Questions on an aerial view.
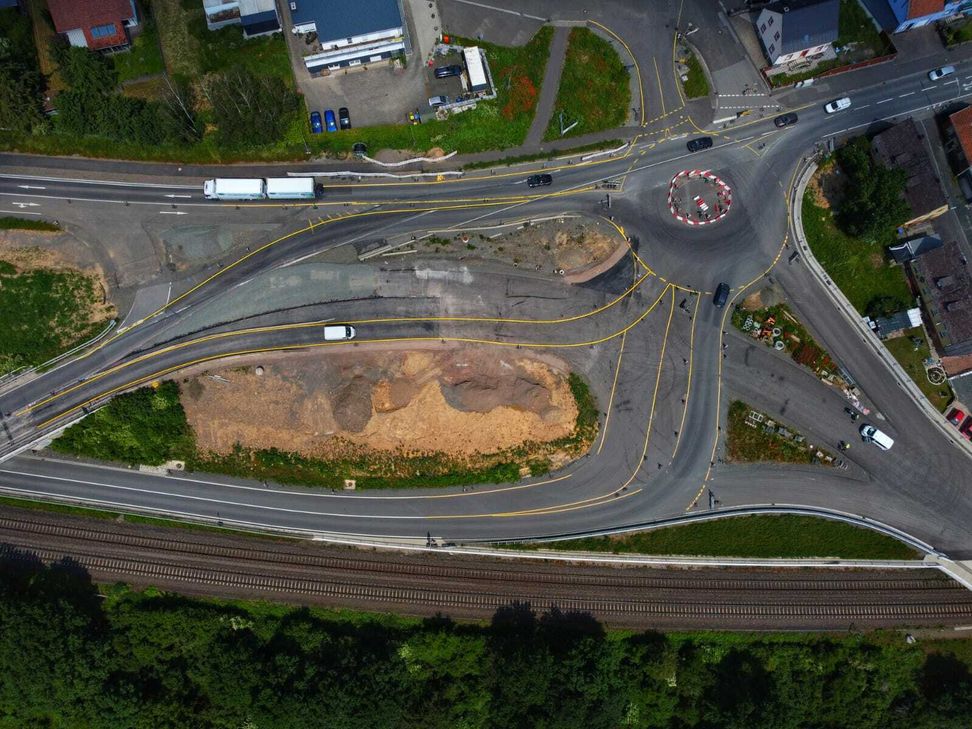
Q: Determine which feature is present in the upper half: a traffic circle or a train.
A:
traffic circle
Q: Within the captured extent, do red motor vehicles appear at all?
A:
Yes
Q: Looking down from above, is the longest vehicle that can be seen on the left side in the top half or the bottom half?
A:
top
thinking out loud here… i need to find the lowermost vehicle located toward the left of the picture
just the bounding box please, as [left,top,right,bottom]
[324,326,358,341]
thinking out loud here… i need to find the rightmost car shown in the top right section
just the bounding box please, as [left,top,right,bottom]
[926,65,957,81]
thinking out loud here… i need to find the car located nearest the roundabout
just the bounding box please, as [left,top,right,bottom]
[685,137,715,152]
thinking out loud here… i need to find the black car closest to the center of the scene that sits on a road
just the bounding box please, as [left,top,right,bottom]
[526,174,552,187]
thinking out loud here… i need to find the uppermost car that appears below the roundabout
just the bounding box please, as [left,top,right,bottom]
[714,281,729,308]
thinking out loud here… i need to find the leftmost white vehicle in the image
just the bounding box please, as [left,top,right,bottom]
[208,178,326,198]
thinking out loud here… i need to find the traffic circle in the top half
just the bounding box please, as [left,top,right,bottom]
[626,147,782,268]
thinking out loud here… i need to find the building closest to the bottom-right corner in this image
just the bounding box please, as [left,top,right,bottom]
[940,373,972,419]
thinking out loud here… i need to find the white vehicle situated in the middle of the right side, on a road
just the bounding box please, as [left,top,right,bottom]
[857,426,894,451]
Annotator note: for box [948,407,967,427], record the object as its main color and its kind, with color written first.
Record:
red car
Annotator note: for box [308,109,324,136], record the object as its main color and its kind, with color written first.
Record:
blue car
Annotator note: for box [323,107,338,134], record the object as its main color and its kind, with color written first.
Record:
blue car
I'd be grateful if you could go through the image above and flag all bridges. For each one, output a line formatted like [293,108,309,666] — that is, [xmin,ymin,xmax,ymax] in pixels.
[925,547,972,591]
